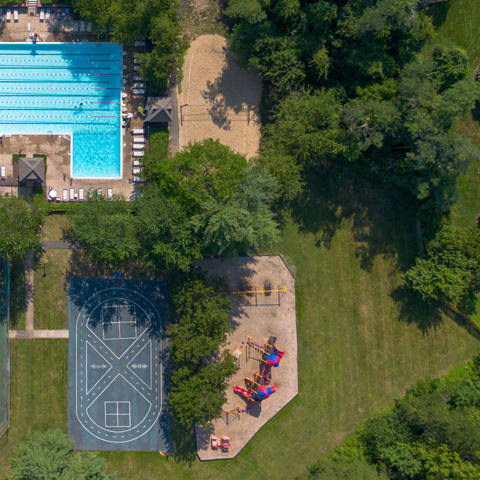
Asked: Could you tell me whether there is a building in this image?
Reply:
Yes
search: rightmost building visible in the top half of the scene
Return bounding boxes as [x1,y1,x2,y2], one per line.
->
[145,97,173,122]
